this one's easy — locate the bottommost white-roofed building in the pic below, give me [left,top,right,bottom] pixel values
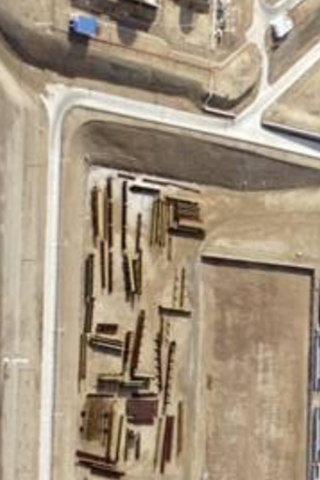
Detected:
[267,15,294,39]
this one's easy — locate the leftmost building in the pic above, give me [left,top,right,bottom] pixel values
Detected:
[67,13,101,39]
